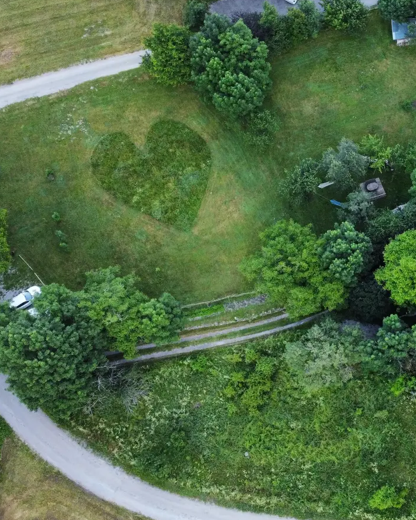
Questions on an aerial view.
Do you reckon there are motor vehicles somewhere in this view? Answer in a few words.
Yes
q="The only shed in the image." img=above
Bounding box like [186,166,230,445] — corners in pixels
[392,20,416,49]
